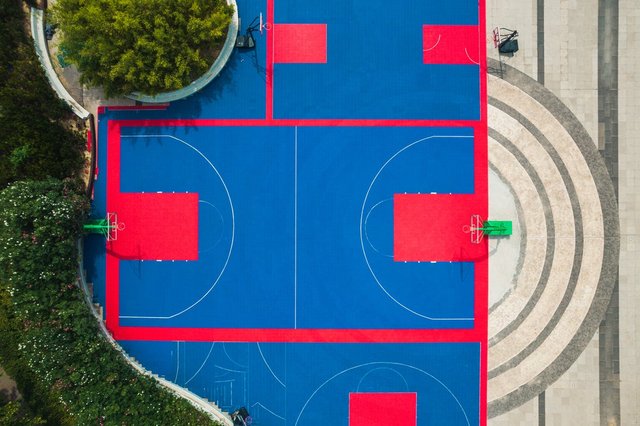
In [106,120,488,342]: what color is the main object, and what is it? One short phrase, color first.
blue basketball court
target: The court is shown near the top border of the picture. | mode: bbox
[267,0,488,120]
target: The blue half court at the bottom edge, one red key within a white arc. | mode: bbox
[286,341,488,426]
